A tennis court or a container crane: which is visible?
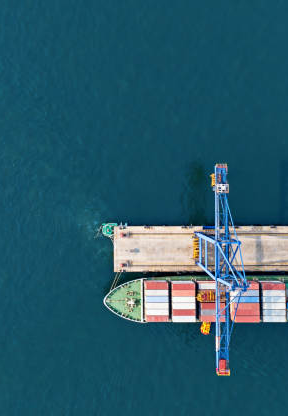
container crane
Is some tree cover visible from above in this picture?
No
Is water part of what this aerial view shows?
Yes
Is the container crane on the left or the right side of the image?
right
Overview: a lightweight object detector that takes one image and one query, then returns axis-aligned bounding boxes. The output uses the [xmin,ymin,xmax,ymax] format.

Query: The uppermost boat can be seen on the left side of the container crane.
[103,224,119,237]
